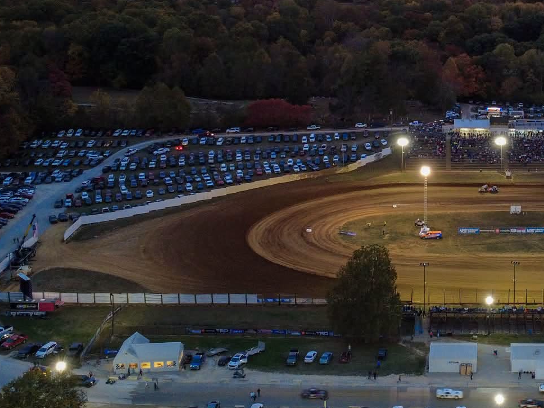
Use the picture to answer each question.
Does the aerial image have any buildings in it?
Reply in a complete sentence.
Yes, you can see a building in this photo.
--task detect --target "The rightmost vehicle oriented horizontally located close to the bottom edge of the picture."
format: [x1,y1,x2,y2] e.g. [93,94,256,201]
[518,396,544,408]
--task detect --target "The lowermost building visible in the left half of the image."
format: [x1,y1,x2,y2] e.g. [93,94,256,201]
[114,327,194,374]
